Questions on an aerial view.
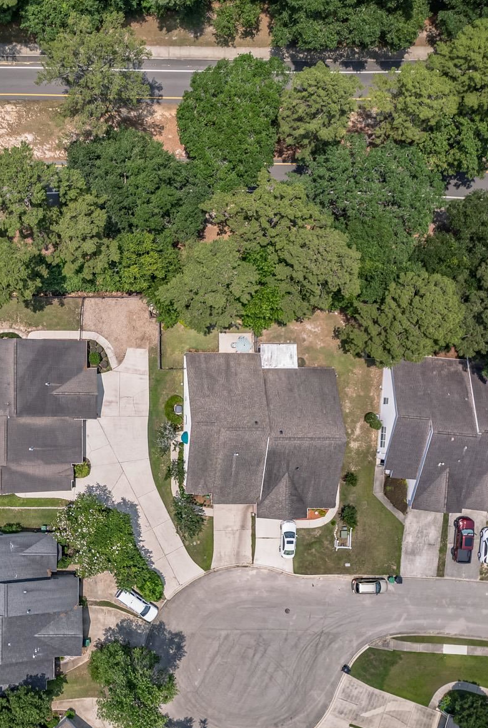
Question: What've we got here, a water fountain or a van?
van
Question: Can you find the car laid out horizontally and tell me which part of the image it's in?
bottom right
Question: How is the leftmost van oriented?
on a diagonal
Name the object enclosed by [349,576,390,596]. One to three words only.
car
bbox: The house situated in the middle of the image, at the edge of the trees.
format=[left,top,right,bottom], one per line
[184,343,346,520]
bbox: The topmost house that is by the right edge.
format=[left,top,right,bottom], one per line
[375,356,488,513]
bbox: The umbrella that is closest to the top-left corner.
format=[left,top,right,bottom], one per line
[234,335,252,352]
